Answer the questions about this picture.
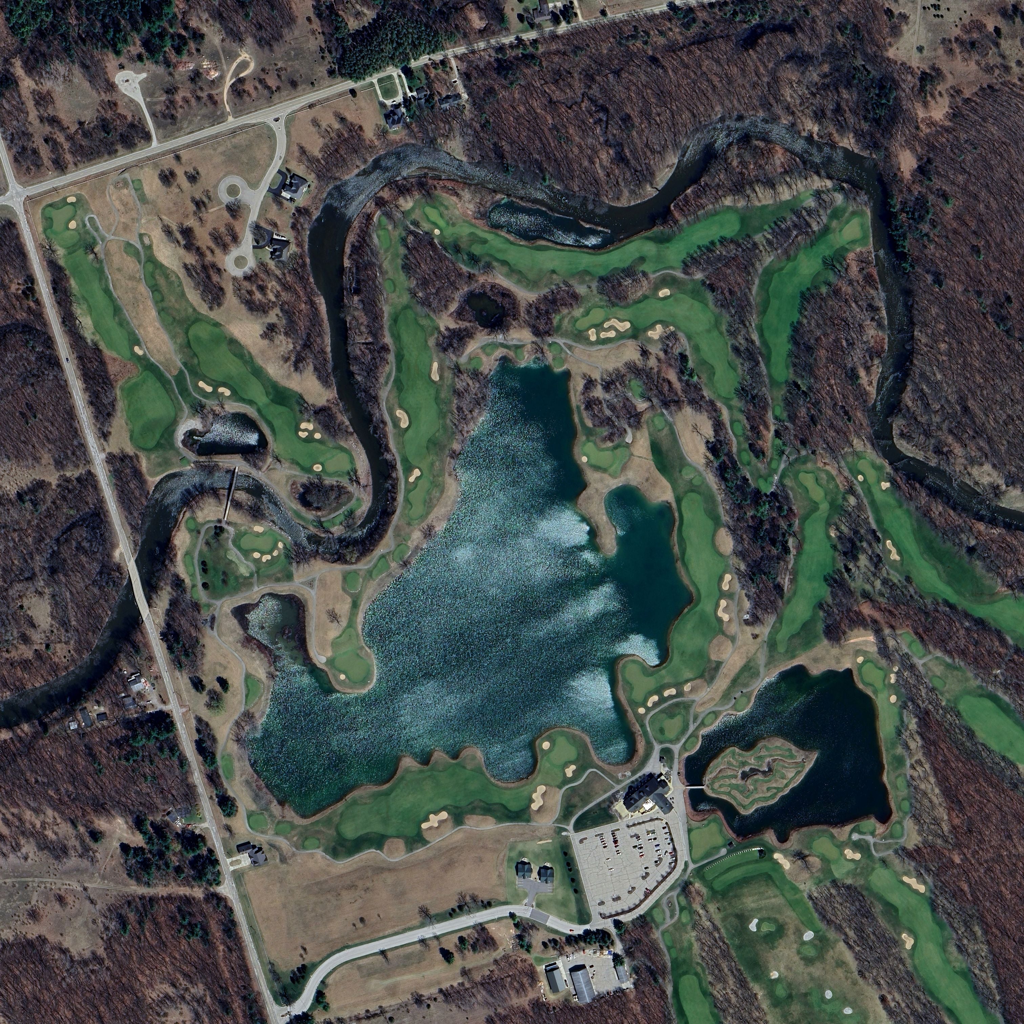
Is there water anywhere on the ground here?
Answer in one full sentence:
Yes, water can be seen from above here.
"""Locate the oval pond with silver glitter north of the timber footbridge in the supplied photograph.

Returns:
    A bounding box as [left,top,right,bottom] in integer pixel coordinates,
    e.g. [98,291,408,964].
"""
[194,412,267,455]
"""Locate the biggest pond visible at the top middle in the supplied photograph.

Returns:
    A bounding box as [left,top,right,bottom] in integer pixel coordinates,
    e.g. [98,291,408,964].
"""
[488,198,614,249]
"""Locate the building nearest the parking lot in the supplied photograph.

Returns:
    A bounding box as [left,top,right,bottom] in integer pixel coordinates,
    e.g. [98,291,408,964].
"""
[621,775,674,815]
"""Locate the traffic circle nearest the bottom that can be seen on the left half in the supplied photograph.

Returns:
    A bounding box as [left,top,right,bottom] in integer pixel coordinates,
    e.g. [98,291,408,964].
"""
[226,248,256,277]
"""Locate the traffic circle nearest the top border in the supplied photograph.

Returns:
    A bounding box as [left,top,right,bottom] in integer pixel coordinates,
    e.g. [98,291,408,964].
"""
[218,176,249,206]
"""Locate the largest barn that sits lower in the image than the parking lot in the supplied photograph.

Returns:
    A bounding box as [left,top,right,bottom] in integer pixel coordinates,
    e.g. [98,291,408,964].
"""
[571,967,596,1005]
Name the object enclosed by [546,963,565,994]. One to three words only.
barn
